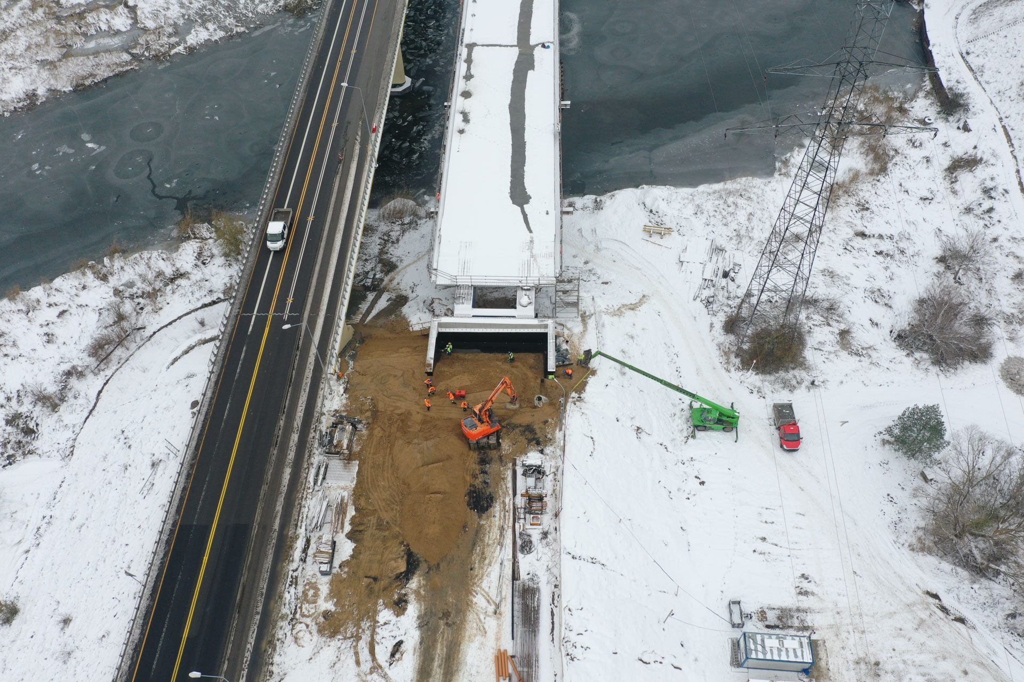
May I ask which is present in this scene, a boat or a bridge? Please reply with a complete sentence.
Looking from above, you can make out a bridge.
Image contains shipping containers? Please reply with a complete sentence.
Yes, a shipping container can be made out from above.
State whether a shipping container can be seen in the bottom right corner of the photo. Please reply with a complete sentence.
Yes, a shipping container is visible in the bottom right corner of the photo.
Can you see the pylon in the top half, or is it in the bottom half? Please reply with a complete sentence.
You can find the pylon in the top half.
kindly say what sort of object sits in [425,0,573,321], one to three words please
bridge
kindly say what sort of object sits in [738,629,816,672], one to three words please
shipping container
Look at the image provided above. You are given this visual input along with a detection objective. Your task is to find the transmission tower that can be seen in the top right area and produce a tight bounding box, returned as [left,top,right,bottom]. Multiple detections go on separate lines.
[721,0,950,354]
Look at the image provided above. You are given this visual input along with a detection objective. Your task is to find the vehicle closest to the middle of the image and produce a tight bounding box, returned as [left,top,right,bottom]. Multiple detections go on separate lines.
[463,377,519,456]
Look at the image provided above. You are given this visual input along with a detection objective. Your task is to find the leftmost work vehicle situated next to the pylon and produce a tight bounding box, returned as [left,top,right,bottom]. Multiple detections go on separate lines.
[576,349,747,445]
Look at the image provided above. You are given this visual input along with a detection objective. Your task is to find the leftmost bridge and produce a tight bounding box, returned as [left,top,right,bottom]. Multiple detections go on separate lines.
[225,0,409,376]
